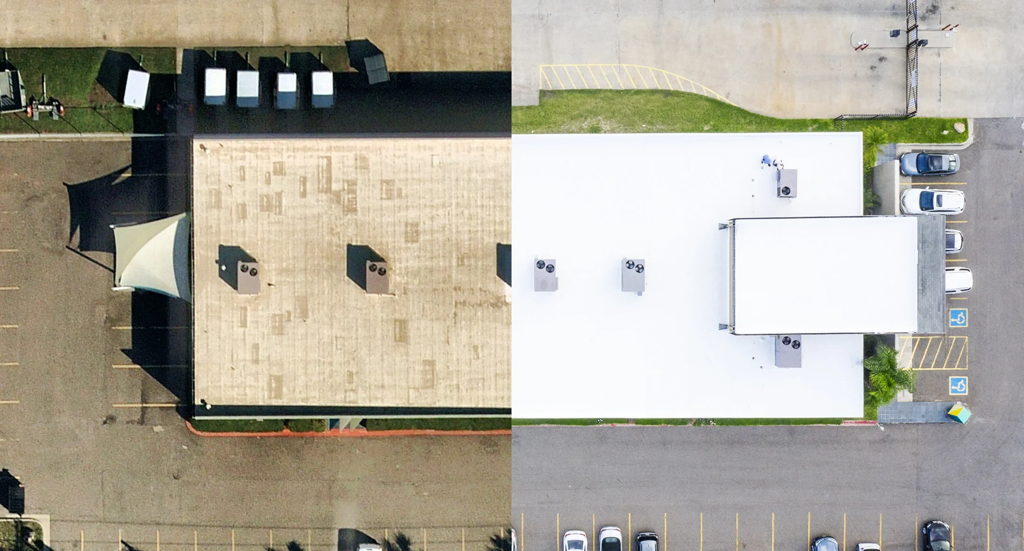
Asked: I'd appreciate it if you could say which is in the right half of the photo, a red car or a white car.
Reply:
white car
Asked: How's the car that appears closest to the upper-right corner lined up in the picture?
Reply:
from side to side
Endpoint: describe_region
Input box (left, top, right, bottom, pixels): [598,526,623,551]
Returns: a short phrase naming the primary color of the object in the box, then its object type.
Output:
white car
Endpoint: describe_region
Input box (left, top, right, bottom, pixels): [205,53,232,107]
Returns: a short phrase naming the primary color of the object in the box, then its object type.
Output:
white trailer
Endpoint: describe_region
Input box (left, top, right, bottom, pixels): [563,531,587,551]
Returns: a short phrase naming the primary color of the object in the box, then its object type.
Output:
white car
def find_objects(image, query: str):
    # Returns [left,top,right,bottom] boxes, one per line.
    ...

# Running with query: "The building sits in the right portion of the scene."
[512,132,945,418]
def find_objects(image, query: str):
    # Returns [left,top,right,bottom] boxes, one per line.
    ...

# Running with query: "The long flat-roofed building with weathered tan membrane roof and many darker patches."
[191,133,512,418]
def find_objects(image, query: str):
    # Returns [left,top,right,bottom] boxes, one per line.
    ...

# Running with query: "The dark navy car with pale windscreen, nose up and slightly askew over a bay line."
[922,521,954,551]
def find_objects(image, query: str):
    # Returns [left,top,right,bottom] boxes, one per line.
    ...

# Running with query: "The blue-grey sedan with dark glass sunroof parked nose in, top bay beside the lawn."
[901,149,961,177]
